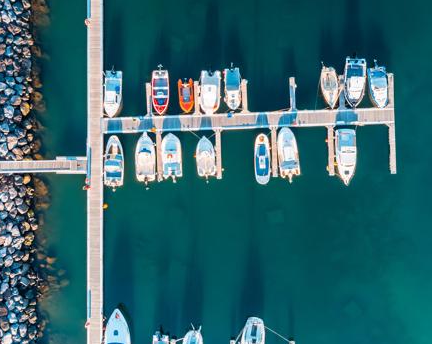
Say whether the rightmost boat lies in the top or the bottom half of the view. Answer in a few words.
top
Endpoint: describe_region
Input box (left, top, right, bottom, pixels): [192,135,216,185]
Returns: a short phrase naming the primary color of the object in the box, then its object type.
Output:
white boat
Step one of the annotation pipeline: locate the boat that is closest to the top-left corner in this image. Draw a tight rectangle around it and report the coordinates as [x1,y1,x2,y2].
[102,60,122,118]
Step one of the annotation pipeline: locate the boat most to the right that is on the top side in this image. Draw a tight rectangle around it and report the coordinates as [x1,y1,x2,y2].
[366,59,389,109]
